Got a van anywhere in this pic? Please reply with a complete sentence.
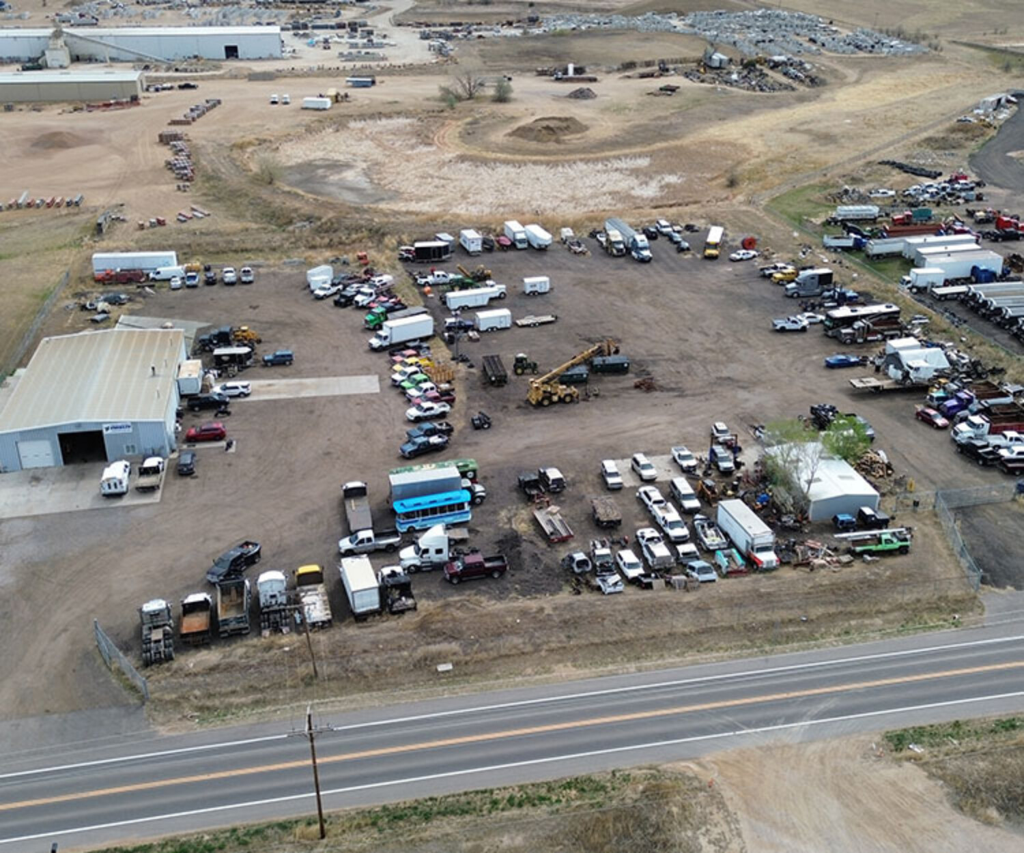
Yes, looking at the shot, I can spot a van.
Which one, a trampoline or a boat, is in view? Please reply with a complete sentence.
It is a boat that can be seen here.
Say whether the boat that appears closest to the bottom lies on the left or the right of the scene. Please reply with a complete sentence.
It is on the right.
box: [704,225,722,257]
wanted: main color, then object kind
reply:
white vehicle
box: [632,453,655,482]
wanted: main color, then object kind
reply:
white car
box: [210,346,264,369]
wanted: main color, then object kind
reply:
black trailer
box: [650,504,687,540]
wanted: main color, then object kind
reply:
white truck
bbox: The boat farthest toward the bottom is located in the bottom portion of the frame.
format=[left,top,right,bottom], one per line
[692,516,729,560]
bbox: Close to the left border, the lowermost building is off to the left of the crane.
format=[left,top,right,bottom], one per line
[0,327,195,476]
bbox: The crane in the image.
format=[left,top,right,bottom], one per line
[528,339,618,403]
